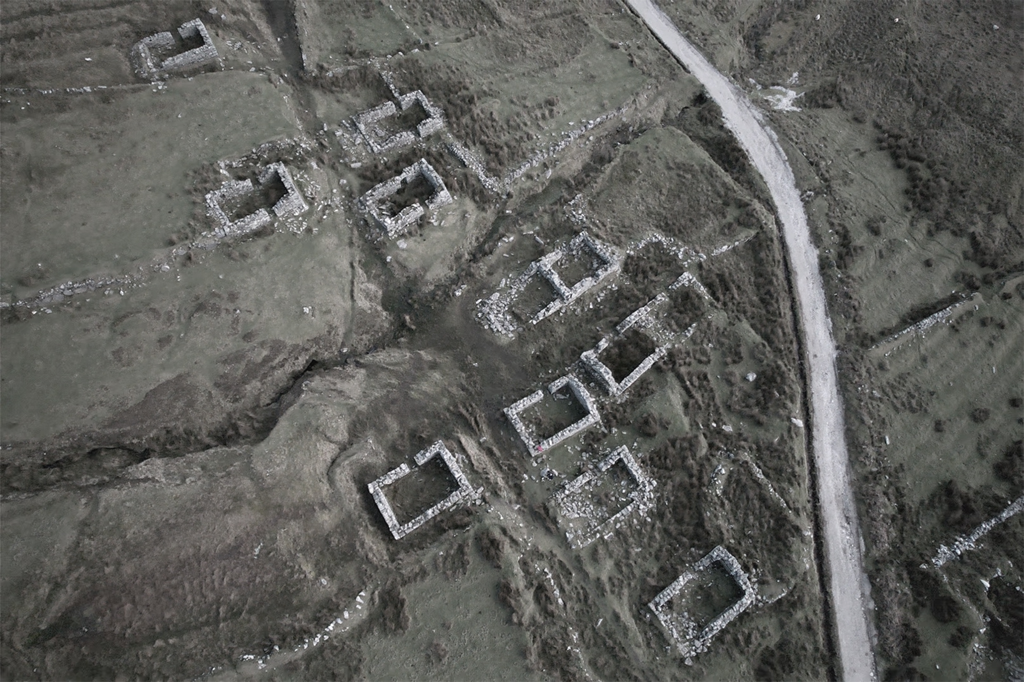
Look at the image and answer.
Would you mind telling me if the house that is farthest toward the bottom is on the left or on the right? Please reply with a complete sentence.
It is on the right.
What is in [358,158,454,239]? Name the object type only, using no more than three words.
house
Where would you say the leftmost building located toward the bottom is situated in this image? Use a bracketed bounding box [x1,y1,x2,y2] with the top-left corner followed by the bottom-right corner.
[366,439,483,544]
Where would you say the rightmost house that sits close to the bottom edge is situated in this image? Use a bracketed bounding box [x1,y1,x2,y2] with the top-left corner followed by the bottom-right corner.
[640,543,766,660]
